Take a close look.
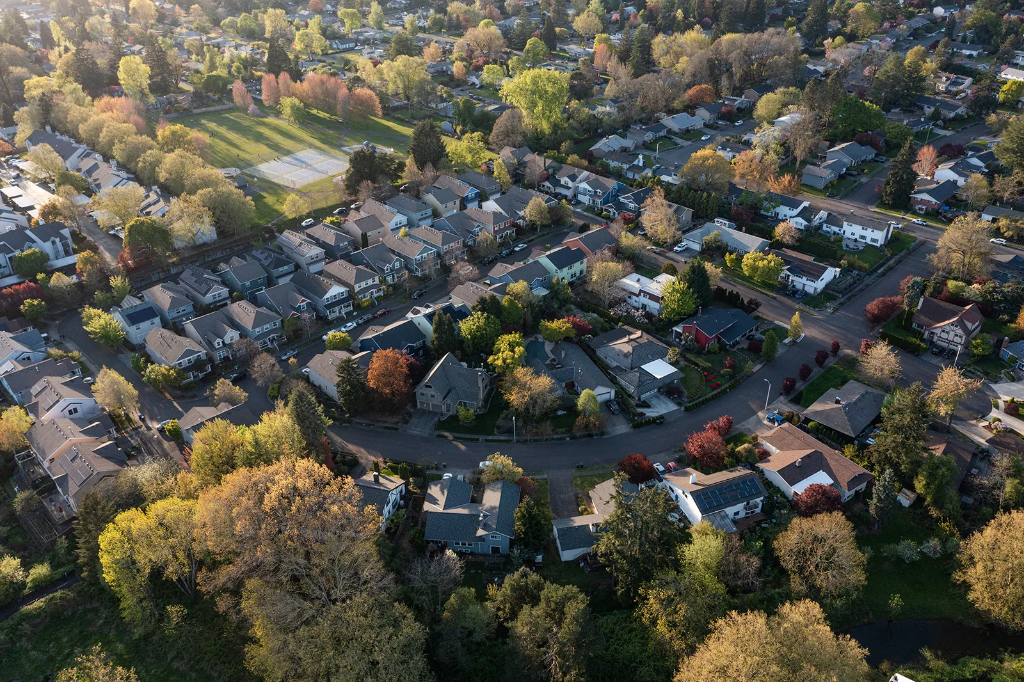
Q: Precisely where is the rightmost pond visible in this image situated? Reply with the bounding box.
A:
[853,619,1024,670]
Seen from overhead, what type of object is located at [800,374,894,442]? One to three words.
house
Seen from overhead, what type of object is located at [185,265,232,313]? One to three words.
house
